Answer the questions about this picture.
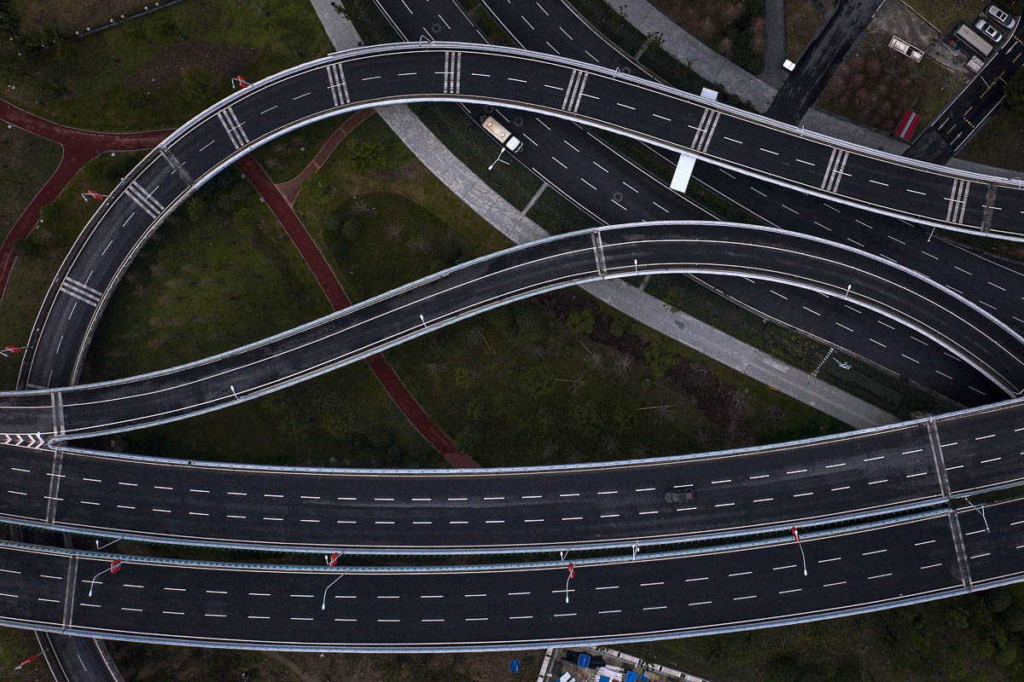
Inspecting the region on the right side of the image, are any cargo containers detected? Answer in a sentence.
Yes, there is a cargo container on the right side of the image.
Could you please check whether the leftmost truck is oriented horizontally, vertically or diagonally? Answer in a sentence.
I'd say the leftmost truck is aligned diagonally in the picture.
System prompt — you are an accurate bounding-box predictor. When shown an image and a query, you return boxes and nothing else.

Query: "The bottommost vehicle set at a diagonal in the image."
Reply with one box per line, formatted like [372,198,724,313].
[482,116,523,154]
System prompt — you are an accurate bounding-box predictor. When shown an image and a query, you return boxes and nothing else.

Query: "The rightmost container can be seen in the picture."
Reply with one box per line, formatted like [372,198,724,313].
[954,24,993,57]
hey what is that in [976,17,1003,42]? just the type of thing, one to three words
car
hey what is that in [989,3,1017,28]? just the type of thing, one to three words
car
